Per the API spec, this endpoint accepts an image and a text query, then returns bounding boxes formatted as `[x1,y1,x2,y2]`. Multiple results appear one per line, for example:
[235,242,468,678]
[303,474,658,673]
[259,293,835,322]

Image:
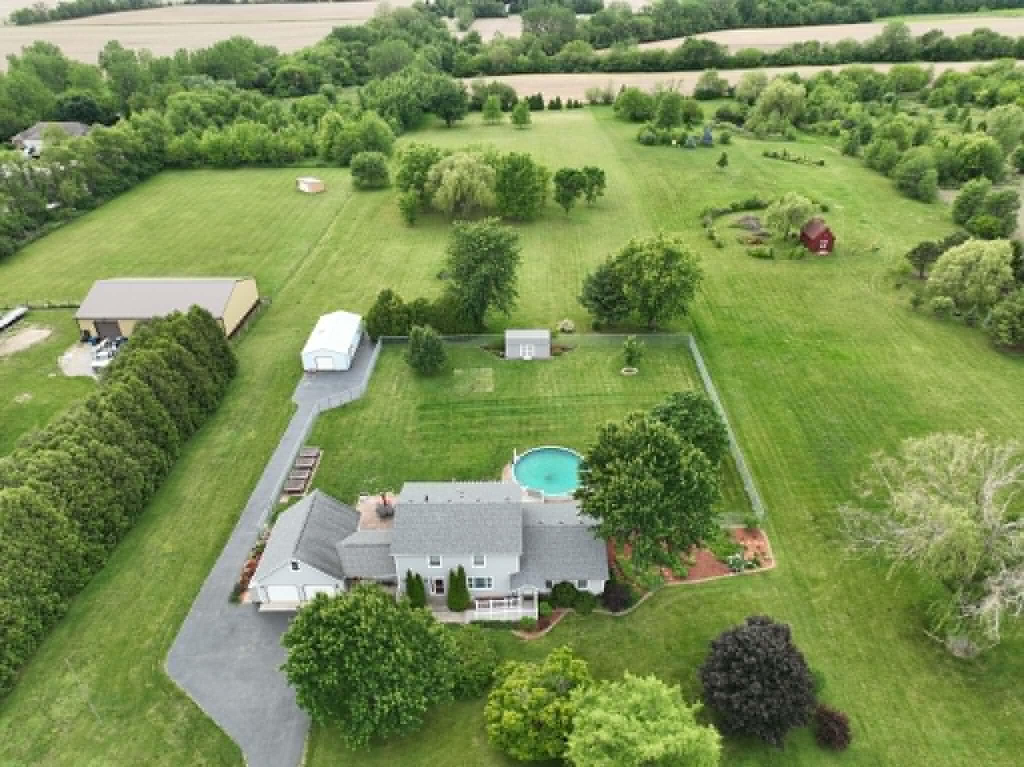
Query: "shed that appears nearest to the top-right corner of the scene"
[801,219,838,254]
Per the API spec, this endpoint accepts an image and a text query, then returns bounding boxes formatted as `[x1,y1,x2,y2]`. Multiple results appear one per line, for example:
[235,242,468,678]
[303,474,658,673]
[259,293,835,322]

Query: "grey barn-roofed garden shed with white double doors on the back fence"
[505,328,552,362]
